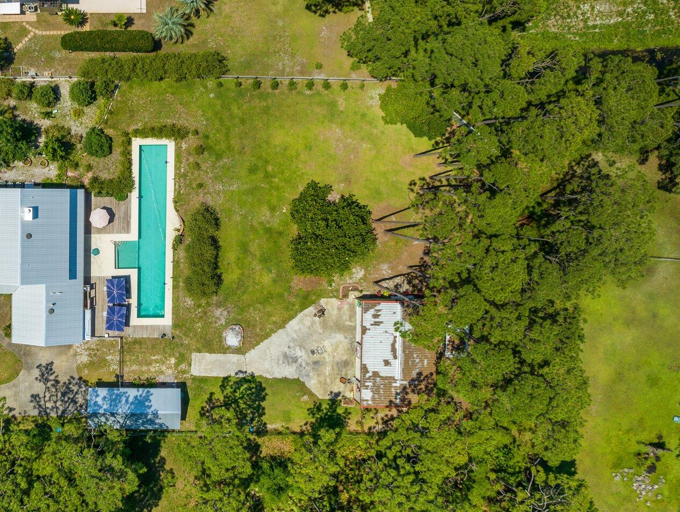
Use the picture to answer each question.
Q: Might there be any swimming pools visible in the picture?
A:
Yes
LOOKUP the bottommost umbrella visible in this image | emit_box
[105,305,127,332]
